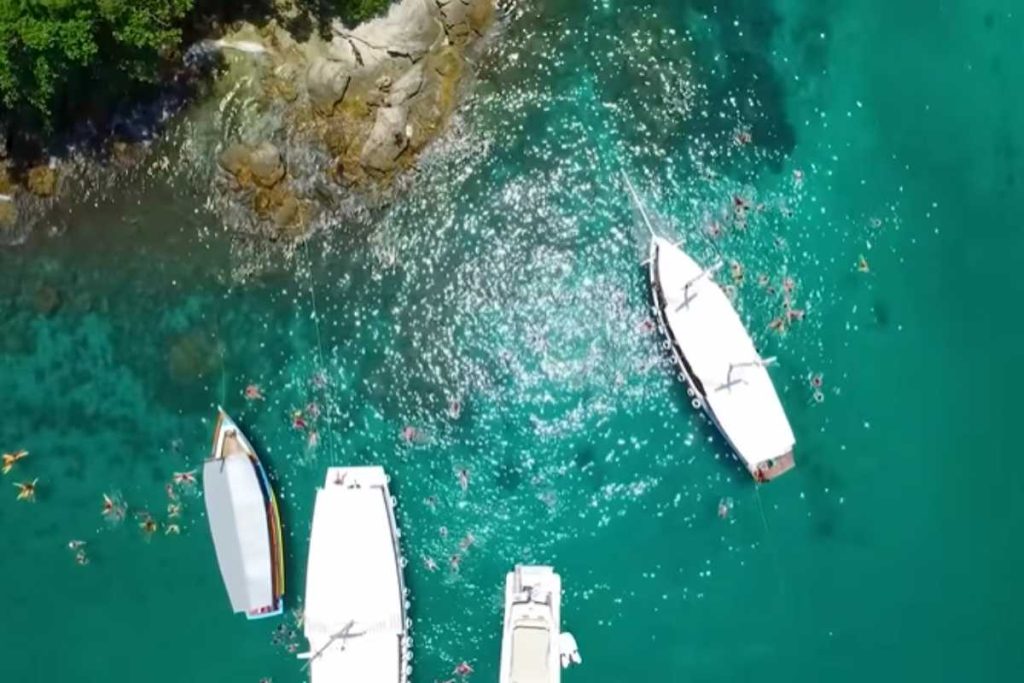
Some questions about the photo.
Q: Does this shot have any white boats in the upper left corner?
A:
No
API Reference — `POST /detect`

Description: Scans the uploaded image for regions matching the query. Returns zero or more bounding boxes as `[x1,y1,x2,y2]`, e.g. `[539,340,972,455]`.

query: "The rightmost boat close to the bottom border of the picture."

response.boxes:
[561,630,583,669]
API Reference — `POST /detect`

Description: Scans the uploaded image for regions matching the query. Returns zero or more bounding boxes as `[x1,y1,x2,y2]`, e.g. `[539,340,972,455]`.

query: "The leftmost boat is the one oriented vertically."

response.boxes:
[202,407,287,622]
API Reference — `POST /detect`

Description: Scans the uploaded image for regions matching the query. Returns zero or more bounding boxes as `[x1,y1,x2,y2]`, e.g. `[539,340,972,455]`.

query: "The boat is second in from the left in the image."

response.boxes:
[298,464,414,683]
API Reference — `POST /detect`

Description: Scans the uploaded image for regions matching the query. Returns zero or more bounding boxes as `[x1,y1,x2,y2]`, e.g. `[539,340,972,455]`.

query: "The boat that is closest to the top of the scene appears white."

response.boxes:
[622,170,800,481]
